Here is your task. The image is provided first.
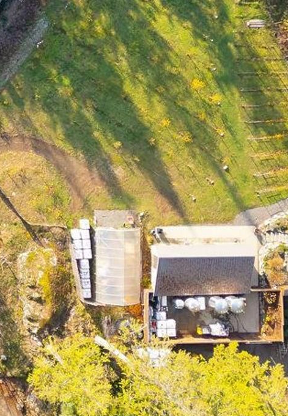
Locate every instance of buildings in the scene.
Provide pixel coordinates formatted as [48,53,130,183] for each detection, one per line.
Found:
[98,229,142,307]
[145,242,258,297]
